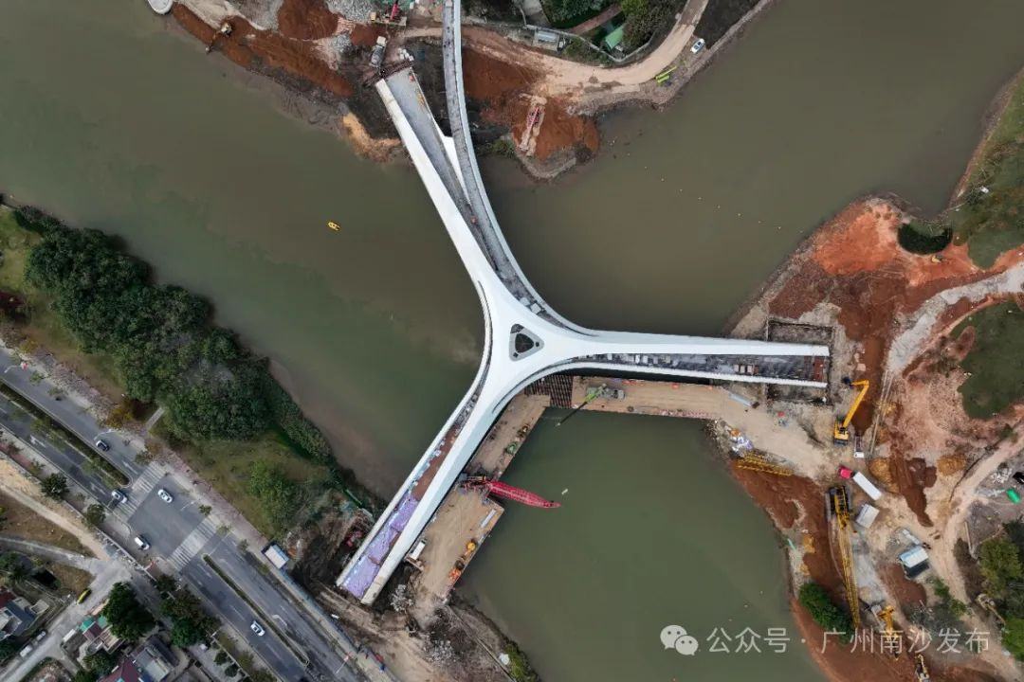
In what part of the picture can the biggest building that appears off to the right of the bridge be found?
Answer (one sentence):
The biggest building that appears off to the right of the bridge appears toward the bottom right of the photo.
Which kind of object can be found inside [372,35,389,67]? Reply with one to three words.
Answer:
vehicle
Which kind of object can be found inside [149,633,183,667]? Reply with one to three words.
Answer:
house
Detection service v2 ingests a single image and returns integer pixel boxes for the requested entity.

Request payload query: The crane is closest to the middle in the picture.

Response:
[556,377,625,425]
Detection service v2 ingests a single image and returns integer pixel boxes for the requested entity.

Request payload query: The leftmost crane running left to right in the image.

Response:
[467,477,563,508]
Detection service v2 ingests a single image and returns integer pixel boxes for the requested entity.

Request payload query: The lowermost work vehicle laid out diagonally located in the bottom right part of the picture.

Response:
[971,591,1008,627]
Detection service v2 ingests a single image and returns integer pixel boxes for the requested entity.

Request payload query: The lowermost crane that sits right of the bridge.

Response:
[827,487,860,627]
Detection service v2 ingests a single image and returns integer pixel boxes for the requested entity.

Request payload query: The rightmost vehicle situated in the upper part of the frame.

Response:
[925,251,943,264]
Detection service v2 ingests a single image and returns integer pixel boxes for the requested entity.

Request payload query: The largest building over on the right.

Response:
[895,546,928,569]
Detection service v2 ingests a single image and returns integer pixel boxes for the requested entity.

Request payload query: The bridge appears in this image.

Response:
[336,0,828,606]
